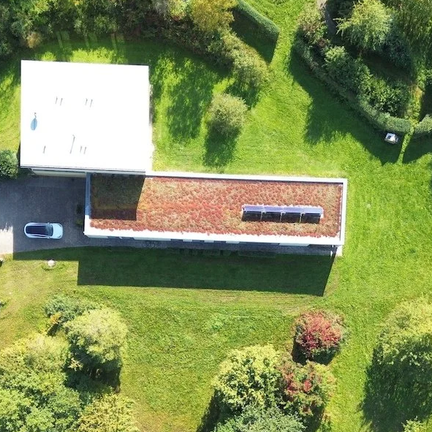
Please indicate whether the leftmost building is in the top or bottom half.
top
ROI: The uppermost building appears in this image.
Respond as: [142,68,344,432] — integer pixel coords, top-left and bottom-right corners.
[21,61,152,179]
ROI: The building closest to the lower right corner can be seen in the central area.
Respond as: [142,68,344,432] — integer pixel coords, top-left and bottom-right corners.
[84,177,348,257]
